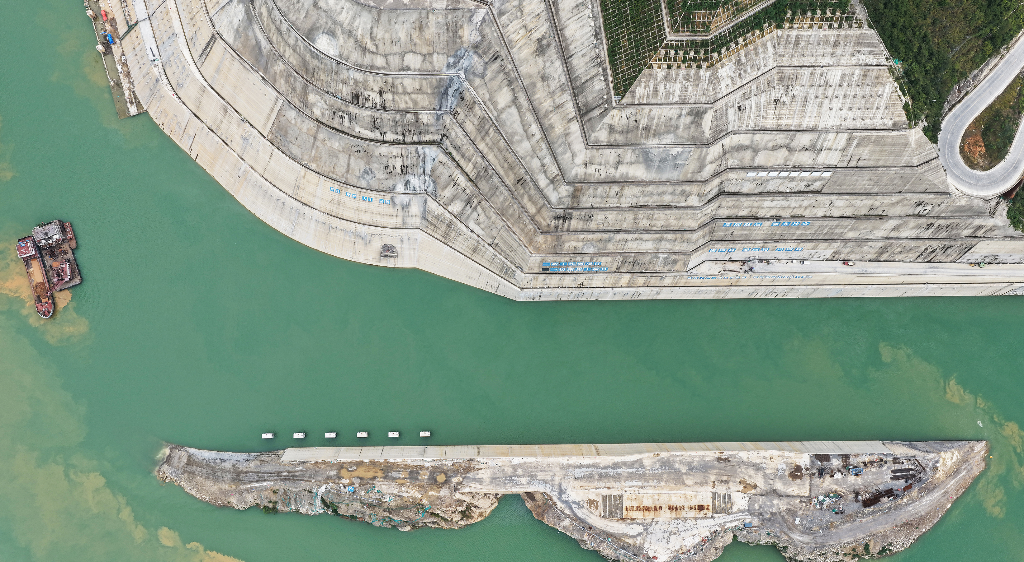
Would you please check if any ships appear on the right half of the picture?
No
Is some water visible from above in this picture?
Yes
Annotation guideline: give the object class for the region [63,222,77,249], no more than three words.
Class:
boat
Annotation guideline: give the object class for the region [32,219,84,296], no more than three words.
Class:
ship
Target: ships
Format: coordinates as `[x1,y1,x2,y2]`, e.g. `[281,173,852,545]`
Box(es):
[15,235,56,319]
[32,219,84,296]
